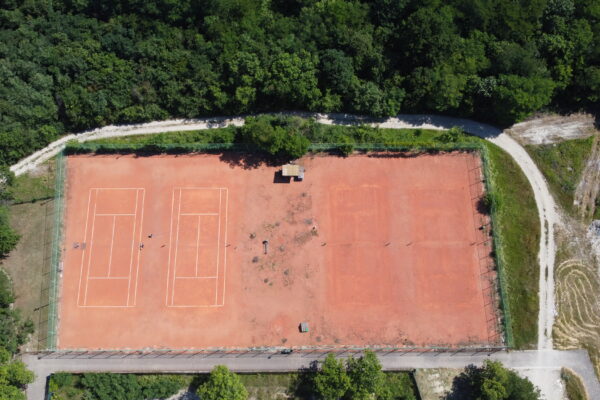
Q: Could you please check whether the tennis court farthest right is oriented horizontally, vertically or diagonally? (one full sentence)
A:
The tennis court farthest right runs vertically in the image.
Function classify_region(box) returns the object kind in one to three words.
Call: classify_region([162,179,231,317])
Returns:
tennis court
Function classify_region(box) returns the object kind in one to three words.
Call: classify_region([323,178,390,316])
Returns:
tennis court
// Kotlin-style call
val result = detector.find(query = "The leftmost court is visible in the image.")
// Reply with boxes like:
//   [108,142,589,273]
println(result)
[73,179,149,317]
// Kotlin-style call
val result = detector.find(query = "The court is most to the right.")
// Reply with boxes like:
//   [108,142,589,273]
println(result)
[405,178,478,316]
